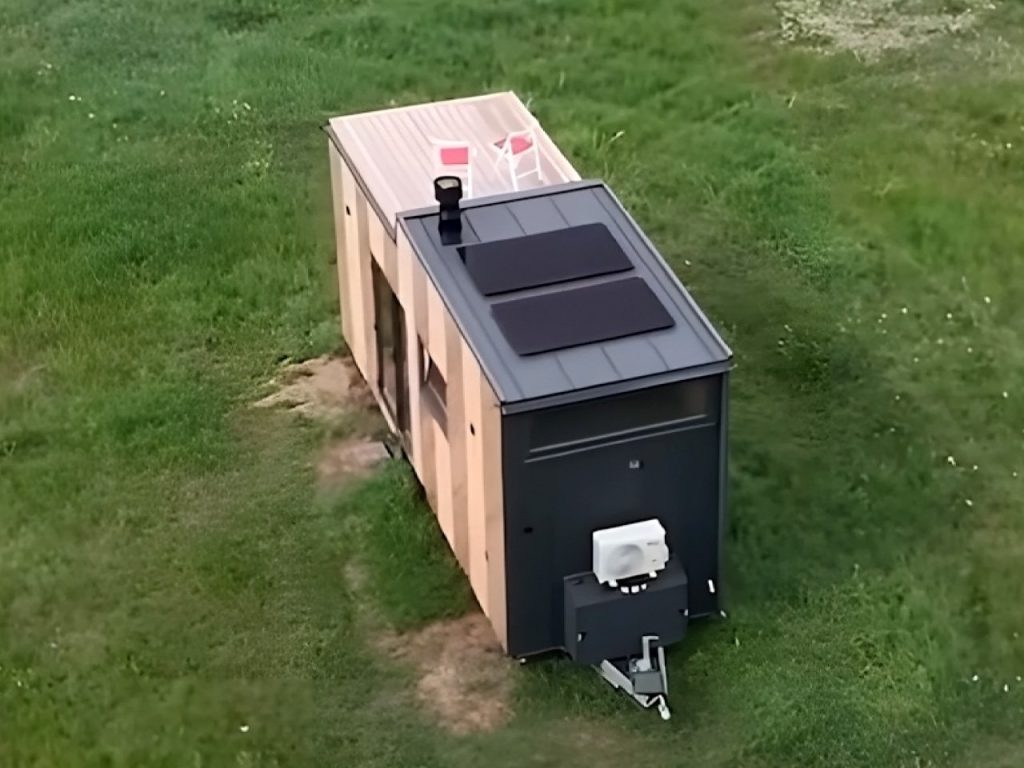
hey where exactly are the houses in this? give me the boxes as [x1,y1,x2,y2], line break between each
[324,93,741,721]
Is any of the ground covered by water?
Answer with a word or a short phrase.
No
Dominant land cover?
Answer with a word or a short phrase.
grass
